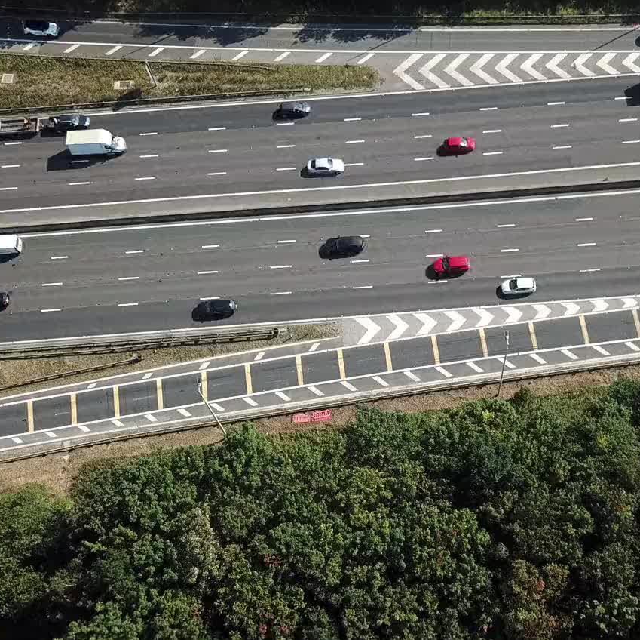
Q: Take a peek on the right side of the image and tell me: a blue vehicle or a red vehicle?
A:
red vehicle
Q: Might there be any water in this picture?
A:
No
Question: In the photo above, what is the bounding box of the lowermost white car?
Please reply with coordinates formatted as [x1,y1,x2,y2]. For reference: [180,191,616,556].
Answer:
[500,276,537,296]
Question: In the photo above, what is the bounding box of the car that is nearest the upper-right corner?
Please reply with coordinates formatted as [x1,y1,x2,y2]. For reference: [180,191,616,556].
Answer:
[446,136,477,154]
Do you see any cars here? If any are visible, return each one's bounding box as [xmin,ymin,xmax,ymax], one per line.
[51,113,91,132]
[24,21,59,38]
[326,237,364,256]
[199,297,238,317]
[434,255,470,275]
[0,292,13,310]
[500,276,537,296]
[278,101,312,119]
[446,136,477,154]
[308,158,344,177]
